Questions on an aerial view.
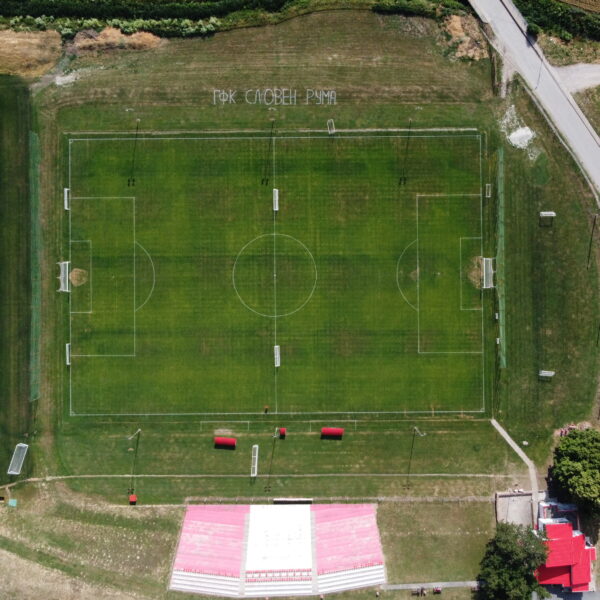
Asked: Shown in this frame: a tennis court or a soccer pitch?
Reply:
soccer pitch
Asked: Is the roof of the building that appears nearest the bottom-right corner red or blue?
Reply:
red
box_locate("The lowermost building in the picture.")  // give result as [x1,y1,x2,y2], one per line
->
[534,502,596,592]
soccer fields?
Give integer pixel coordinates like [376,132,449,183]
[63,129,490,431]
